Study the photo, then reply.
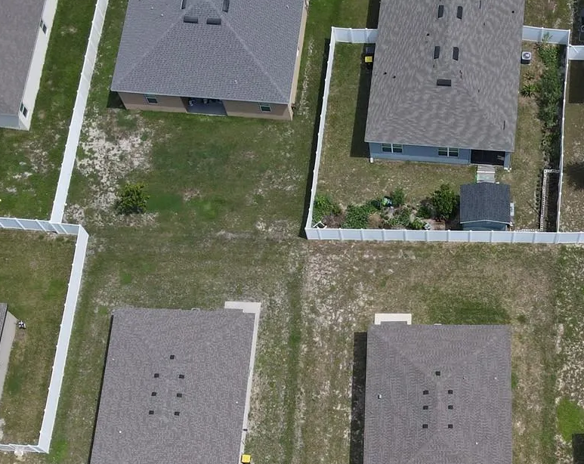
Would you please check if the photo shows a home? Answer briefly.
Yes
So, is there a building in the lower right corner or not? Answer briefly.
Yes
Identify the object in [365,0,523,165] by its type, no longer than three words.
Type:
house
